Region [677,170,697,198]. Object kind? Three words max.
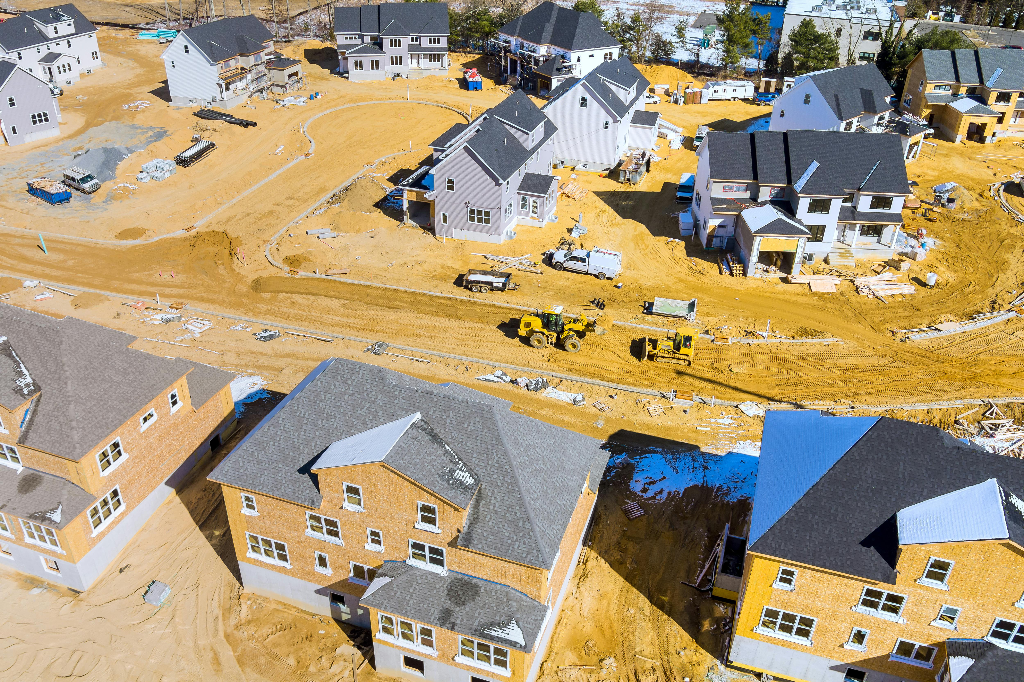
vehicle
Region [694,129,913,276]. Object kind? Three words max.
house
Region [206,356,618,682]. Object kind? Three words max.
house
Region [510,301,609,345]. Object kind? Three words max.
work vehicle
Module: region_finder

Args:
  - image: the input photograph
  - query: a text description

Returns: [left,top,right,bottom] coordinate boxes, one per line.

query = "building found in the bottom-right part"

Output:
[707,411,1024,682]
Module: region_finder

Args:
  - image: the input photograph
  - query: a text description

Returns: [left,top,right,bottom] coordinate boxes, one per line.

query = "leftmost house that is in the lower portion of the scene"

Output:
[0,297,240,589]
